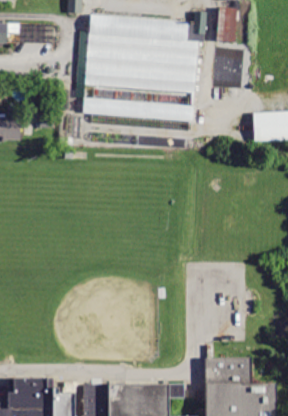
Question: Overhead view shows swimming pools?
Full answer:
No, I find no swimming pool anywhere in the image.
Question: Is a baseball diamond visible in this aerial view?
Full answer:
Yes, this view includes a baseball diamond.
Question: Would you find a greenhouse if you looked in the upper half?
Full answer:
Yes, the scene does show a greenhouse in the upper half.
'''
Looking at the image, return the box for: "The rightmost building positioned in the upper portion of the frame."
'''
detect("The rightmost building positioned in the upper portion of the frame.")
[254,111,288,142]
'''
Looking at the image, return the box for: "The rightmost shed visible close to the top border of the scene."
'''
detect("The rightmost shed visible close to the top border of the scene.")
[218,7,240,43]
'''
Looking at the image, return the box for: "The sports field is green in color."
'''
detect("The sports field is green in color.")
[0,150,196,366]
